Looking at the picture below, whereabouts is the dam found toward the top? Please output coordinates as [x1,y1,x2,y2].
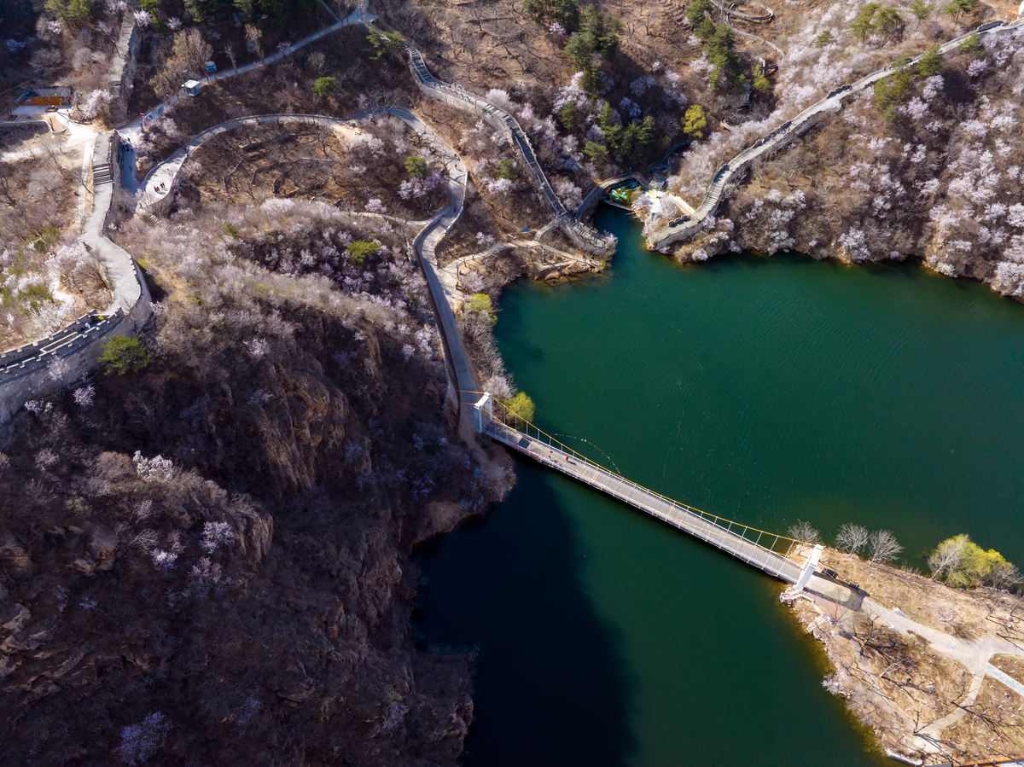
[592,174,651,213]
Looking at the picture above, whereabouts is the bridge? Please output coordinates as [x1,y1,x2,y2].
[454,389,892,622]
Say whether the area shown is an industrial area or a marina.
marina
